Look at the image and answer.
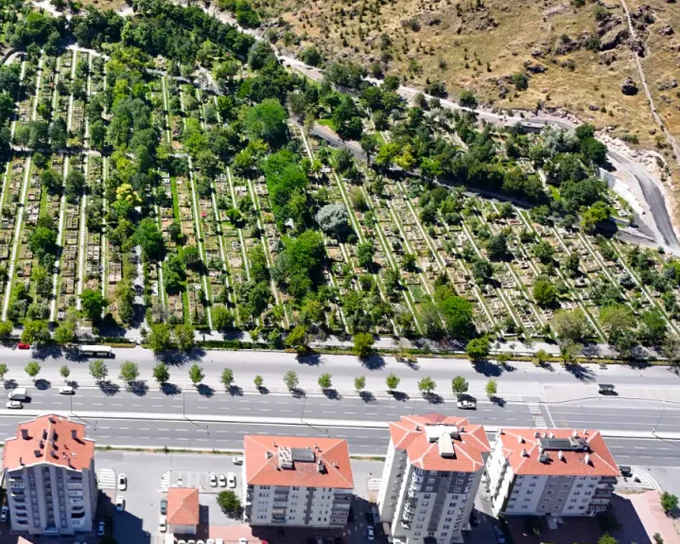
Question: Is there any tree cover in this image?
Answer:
Yes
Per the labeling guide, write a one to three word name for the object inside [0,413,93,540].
building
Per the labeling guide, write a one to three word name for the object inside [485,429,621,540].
building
